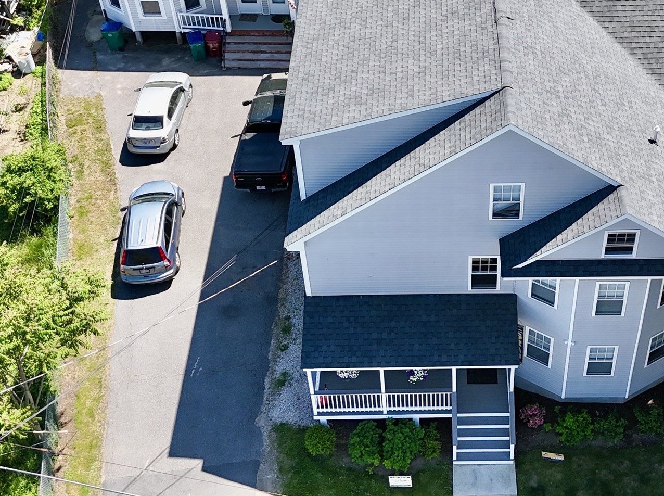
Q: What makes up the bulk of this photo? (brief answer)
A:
buildings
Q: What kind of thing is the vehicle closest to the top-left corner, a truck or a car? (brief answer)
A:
car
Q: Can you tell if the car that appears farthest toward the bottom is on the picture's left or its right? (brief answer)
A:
left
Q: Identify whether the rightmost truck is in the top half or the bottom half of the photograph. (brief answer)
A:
top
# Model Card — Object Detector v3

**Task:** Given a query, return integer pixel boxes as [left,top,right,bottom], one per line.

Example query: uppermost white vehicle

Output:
[119,69,192,158]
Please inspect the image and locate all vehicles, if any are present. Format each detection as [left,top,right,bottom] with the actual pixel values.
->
[120,178,188,282]
[231,73,294,191]
[119,69,192,158]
